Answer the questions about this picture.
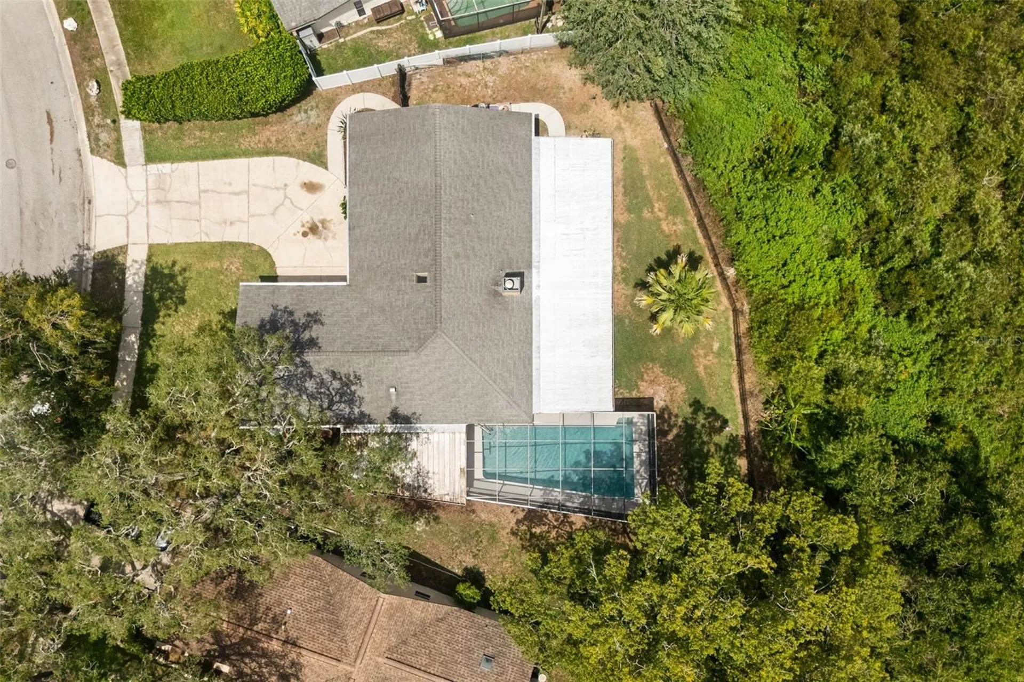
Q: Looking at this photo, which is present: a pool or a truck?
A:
pool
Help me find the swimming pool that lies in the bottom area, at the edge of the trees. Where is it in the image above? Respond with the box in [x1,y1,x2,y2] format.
[476,413,640,502]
